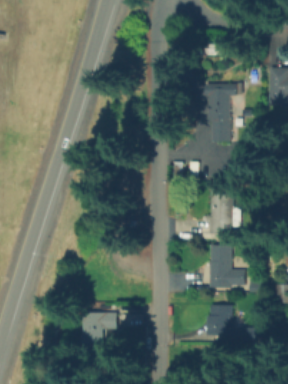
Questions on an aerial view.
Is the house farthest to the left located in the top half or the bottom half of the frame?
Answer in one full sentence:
You can find the house farthest to the left in the bottom half.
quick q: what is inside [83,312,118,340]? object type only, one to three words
house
